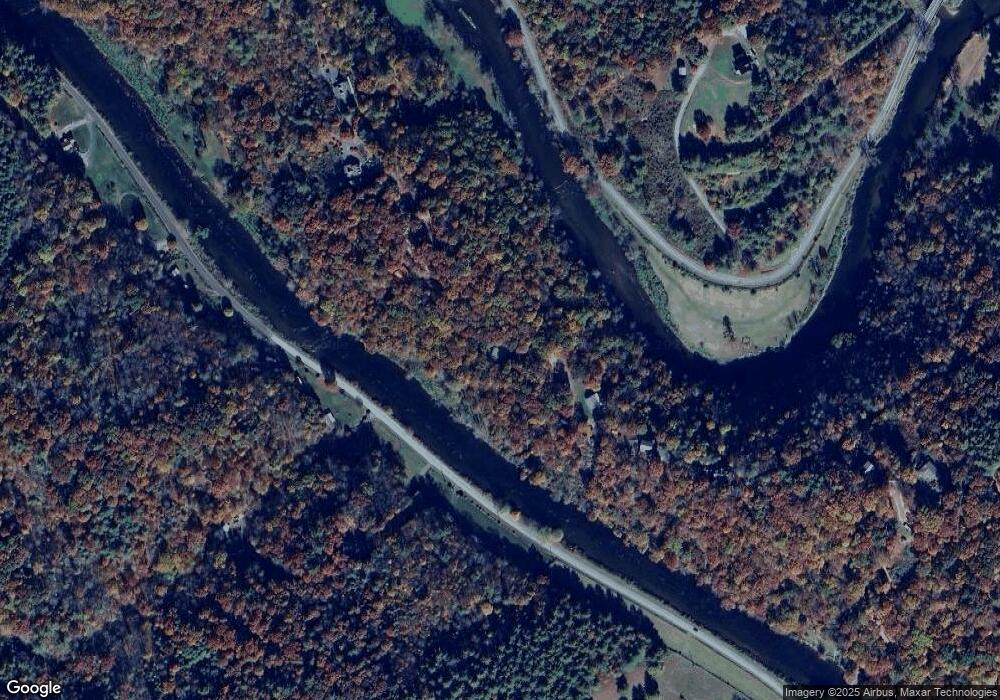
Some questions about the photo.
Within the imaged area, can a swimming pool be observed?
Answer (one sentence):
No, there's no swimming pool here.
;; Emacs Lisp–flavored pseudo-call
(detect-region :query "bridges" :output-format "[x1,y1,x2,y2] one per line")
[904,0,941,52]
